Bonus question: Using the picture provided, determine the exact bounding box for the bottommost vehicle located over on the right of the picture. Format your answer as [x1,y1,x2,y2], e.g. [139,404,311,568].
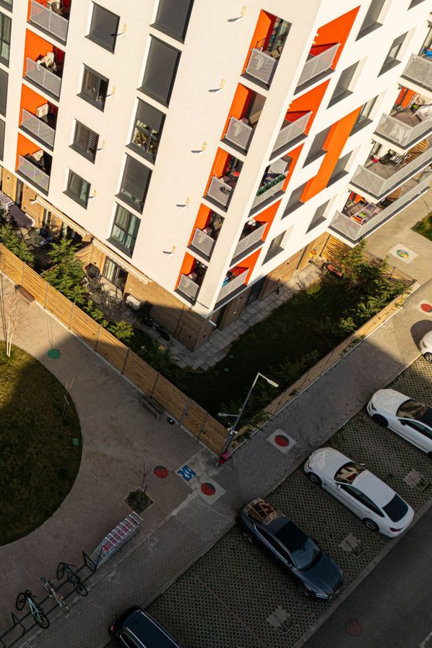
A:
[233,494,349,602]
